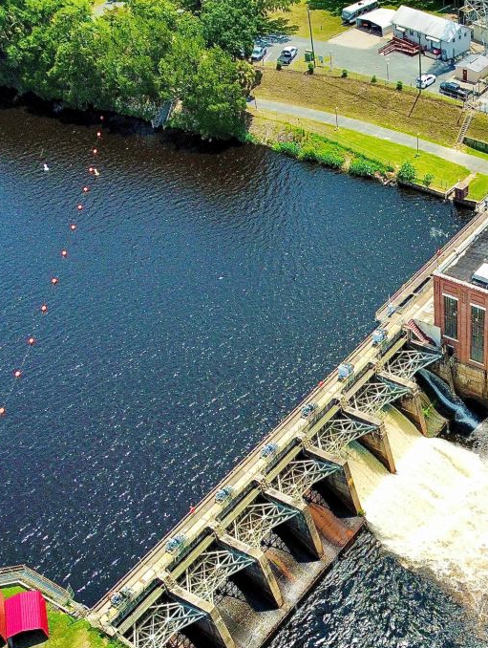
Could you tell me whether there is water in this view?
Yes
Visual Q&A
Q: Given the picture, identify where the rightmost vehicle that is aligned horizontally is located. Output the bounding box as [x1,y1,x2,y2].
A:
[442,82,467,96]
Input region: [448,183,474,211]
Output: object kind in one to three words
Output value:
shed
